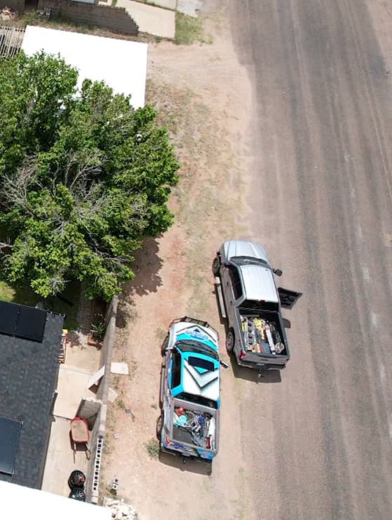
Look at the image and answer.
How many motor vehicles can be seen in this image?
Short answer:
2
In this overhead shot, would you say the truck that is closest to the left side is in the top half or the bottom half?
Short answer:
bottom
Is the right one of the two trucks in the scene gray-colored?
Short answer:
Yes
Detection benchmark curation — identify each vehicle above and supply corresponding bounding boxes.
[156,316,229,467]
[215,242,310,377]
